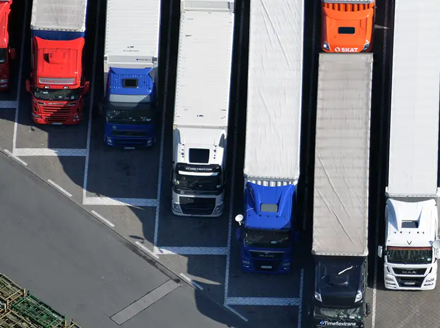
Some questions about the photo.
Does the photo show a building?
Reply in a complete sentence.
No, no building can be seen from above.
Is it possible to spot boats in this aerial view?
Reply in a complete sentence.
No, this view has no boat in it.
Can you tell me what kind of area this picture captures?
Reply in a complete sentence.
The picture captures a parking lot.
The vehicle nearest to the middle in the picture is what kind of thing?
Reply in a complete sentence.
The vehicle nearest to the middle can be classified as a truck.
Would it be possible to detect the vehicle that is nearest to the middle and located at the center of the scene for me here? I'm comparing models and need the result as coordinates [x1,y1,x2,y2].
[166,128,231,215]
